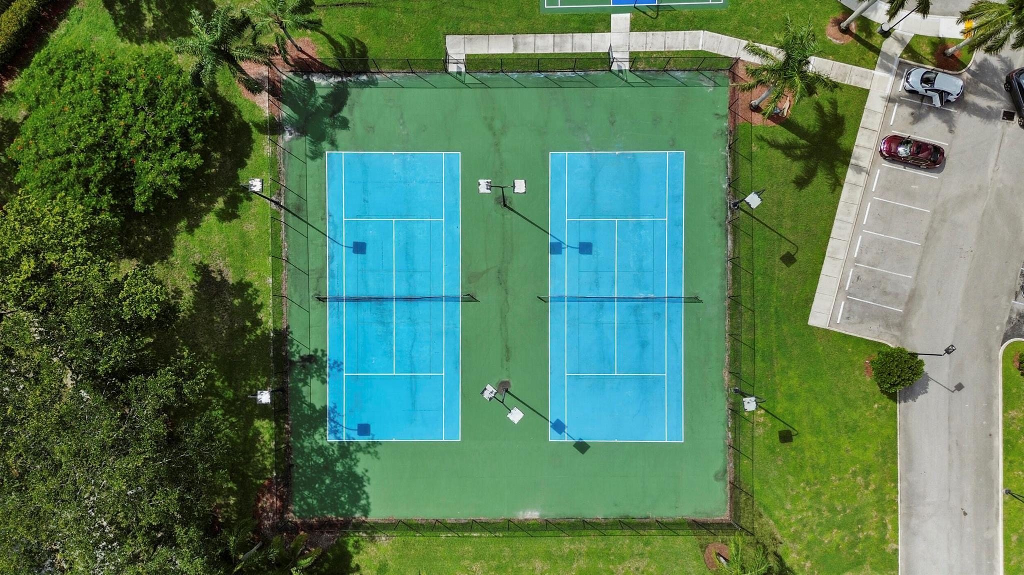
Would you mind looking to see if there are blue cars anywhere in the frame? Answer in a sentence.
No, this view has no blue car in it.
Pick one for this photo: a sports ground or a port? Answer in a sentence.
This image shows a sports ground.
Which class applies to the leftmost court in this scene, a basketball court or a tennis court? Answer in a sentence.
It turns out the leftmost court is a tennis court.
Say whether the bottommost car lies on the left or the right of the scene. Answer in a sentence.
It is on the right.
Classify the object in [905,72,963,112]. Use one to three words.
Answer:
car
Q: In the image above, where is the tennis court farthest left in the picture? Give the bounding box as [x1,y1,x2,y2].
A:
[282,71,505,519]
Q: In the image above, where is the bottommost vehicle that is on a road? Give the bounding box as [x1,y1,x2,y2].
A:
[881,134,944,168]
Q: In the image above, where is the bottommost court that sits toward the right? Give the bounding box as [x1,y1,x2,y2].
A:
[505,70,729,518]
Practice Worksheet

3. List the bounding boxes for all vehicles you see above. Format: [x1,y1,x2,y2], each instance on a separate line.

[905,72,963,112]
[881,134,944,168]
[1008,70,1024,123]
